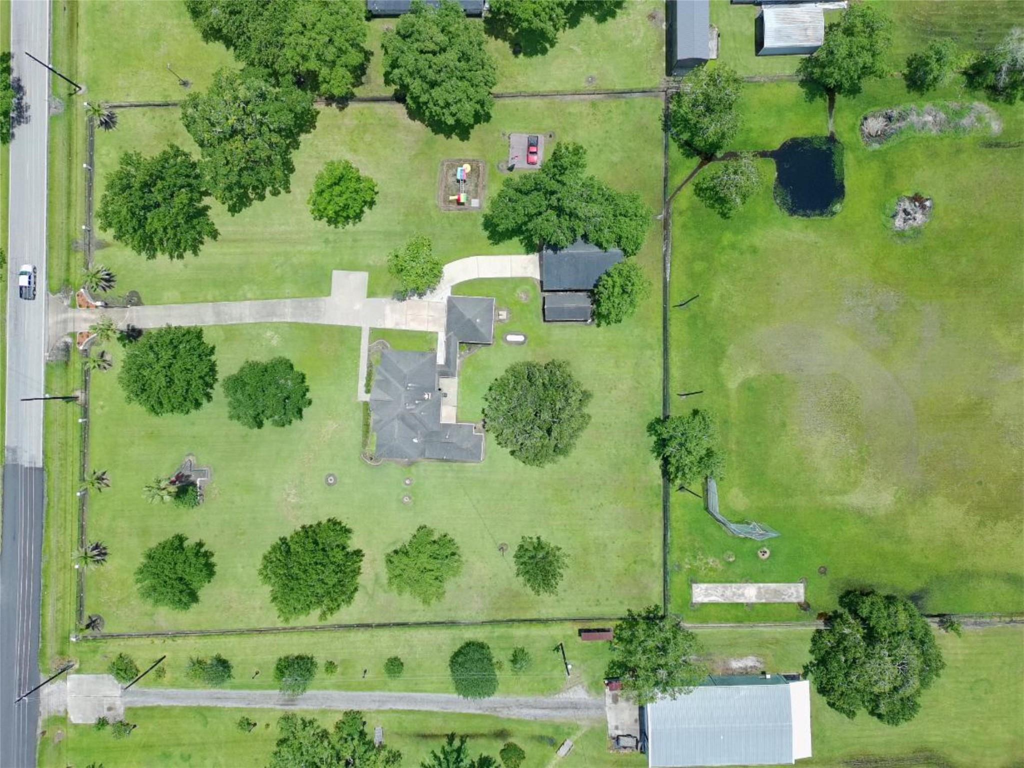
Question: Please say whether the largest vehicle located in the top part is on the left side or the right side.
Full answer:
You can find the largest vehicle located in the top part on the left side of the picture.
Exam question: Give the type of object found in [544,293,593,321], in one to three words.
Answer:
shed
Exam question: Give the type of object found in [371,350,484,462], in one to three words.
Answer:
house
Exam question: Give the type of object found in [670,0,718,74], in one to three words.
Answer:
barn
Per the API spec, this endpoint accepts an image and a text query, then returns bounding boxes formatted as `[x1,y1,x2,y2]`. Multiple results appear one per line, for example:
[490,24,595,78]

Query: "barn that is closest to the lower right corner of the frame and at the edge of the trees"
[642,672,811,768]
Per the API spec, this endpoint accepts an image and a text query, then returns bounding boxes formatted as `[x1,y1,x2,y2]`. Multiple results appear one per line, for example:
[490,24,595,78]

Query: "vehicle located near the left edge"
[18,264,38,301]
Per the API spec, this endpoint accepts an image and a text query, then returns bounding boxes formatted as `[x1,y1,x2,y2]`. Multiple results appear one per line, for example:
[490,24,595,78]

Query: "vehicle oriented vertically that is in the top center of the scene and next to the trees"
[526,134,540,165]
